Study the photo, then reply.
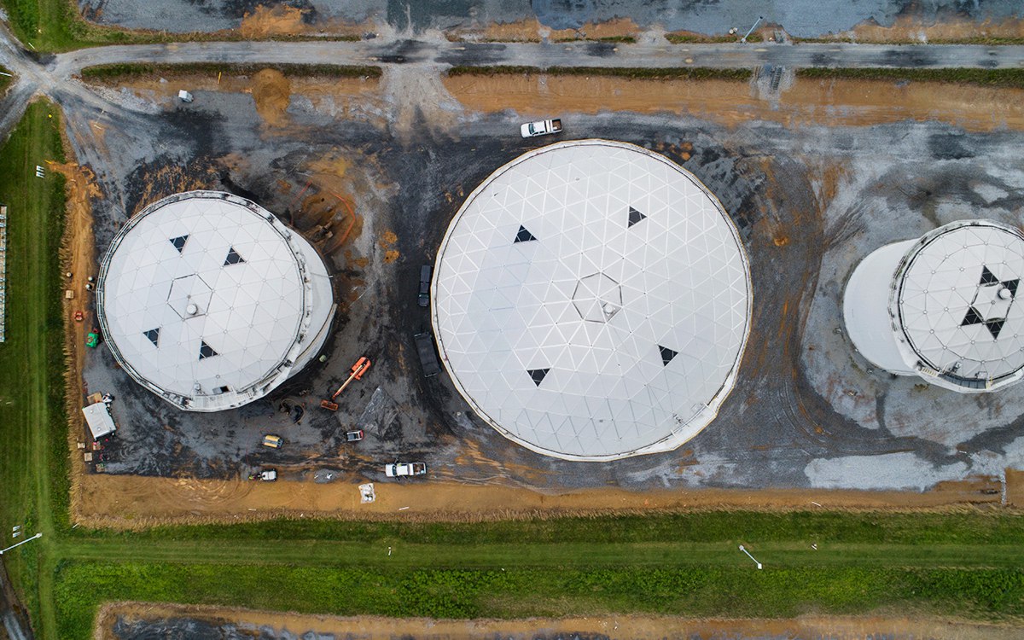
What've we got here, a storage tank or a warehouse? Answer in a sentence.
Looking from above, you can make out a storage tank.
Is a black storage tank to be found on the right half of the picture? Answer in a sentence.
No, no black storage tank can be made out on the right half of the picture.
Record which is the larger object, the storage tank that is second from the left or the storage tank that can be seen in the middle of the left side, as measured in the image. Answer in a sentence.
Compared with the storage tank that can be seen in the middle of the left side, the storage tank that is second from the left is the bigger one.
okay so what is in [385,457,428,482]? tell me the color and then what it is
white truck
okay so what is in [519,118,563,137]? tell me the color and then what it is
white vehicle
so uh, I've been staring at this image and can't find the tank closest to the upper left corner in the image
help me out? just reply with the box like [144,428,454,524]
[93,190,337,413]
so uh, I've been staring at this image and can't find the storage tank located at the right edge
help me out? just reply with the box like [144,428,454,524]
[840,217,1024,392]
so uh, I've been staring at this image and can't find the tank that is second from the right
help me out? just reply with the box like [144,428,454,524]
[430,138,755,462]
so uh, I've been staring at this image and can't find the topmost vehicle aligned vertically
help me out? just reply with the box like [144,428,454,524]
[415,264,433,308]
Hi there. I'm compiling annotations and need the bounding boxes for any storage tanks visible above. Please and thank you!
[840,217,1024,392]
[430,138,755,462]
[93,190,337,413]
